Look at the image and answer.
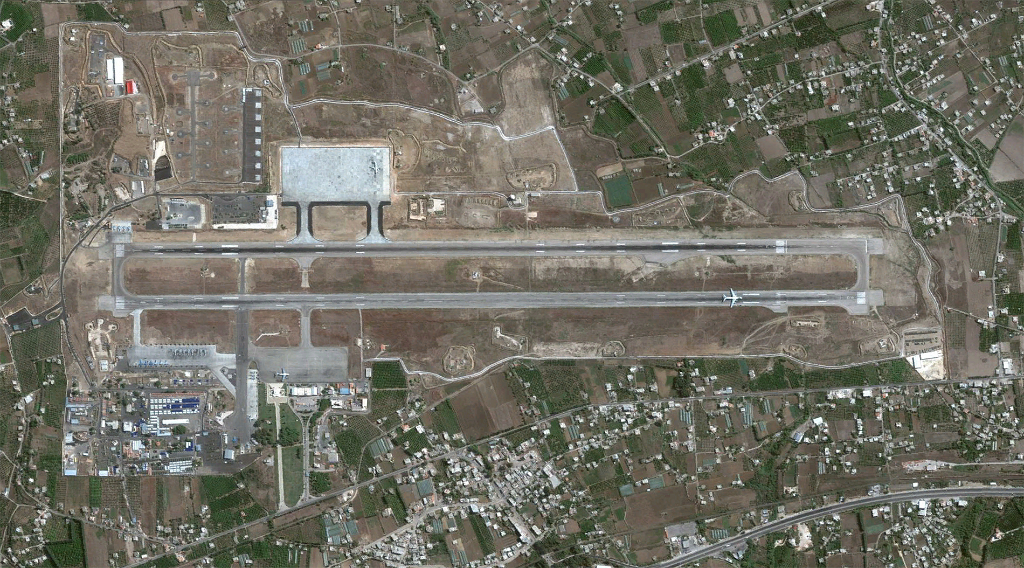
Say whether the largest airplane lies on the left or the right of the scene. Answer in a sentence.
The largest airplane appears in the right half of the scene.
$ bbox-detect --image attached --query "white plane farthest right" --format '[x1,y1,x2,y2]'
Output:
[722,288,742,308]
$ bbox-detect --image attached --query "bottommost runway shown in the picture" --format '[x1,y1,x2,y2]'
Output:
[114,291,869,310]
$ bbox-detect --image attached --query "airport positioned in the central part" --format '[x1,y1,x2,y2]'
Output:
[99,71,883,452]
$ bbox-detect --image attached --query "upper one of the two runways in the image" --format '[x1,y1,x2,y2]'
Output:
[114,239,869,258]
